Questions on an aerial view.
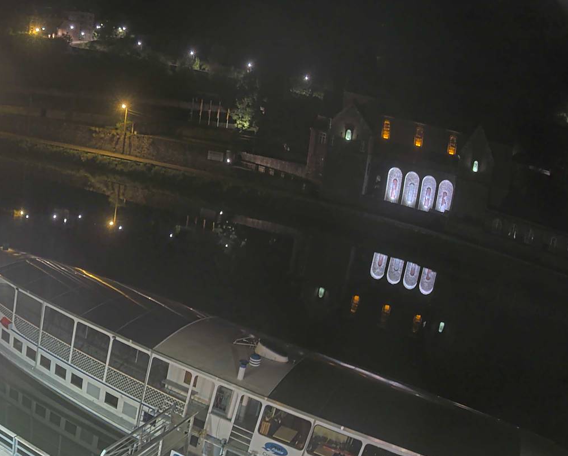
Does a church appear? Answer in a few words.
Yes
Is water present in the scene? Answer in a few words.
Yes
